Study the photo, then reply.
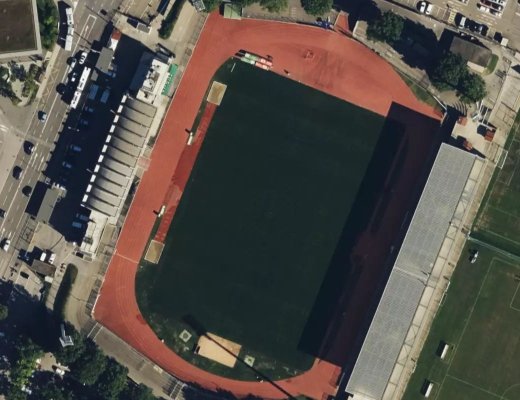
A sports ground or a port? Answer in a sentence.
It's a sports ground.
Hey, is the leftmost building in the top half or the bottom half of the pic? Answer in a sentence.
The leftmost building is in the top half of the image.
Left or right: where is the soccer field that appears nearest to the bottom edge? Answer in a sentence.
The soccer field that appears nearest to the bottom edge appears in the right half of the scene.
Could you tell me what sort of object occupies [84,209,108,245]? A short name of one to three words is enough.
building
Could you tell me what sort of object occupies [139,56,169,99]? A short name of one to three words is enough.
building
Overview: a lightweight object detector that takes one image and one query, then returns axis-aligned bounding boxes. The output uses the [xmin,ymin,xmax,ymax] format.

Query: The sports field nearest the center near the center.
[135,57,405,381]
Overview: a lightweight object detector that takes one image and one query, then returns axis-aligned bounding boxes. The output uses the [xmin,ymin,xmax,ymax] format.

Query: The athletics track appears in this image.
[93,11,444,400]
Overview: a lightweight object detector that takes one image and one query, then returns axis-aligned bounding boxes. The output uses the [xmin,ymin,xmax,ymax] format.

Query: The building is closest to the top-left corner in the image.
[0,0,43,62]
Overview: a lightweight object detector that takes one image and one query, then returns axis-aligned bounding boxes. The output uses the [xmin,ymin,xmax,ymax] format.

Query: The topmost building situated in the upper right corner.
[448,37,491,73]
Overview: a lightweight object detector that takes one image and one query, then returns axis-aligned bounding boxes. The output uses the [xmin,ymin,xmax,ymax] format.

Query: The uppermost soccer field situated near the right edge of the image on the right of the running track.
[470,114,520,252]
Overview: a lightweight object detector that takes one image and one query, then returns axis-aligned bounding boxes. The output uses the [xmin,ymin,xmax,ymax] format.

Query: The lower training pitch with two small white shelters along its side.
[401,234,520,400]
